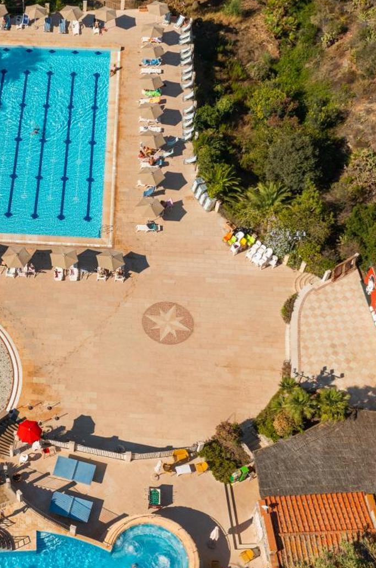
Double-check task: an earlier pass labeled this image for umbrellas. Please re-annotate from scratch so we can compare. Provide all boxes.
[136,165,167,191]
[139,23,166,43]
[2,244,34,273]
[23,4,51,20]
[206,529,218,546]
[14,419,45,448]
[97,247,131,276]
[152,459,163,477]
[94,6,121,23]
[137,72,166,98]
[60,4,87,30]
[139,129,169,156]
[136,100,163,128]
[47,245,82,275]
[138,42,168,68]
[0,3,13,19]
[145,0,172,26]
[135,196,167,224]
